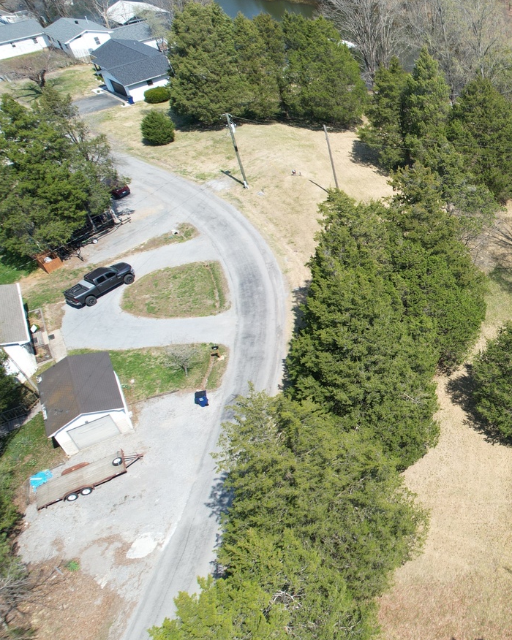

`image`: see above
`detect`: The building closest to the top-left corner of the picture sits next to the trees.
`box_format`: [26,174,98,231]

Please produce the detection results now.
[0,15,46,58]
